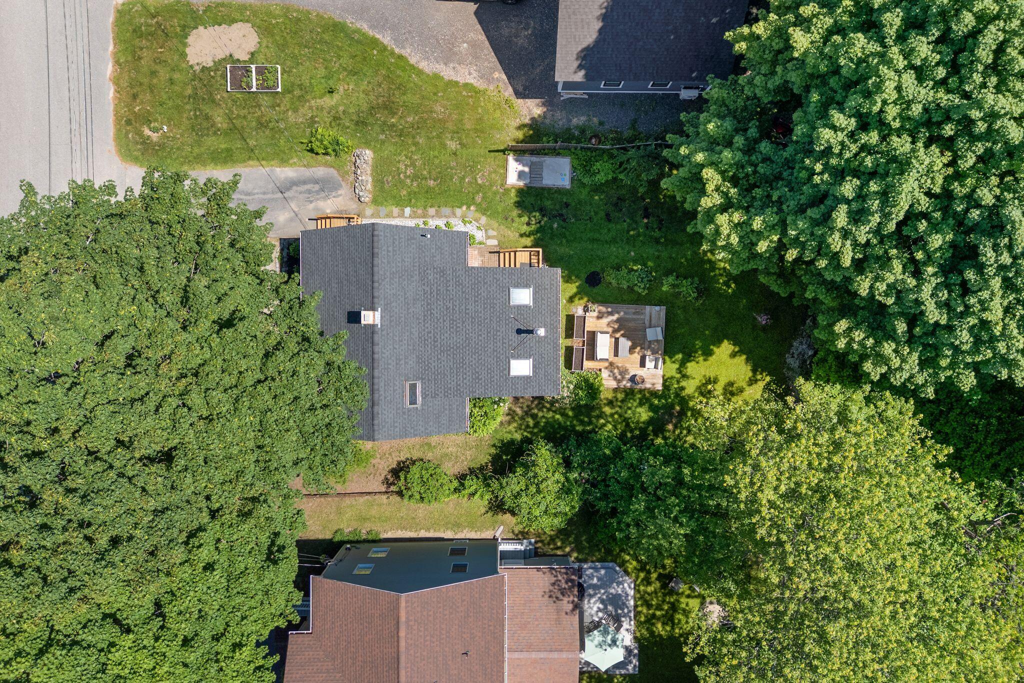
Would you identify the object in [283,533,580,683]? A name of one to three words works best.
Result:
house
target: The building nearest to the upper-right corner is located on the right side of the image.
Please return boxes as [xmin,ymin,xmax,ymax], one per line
[555,0,749,94]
